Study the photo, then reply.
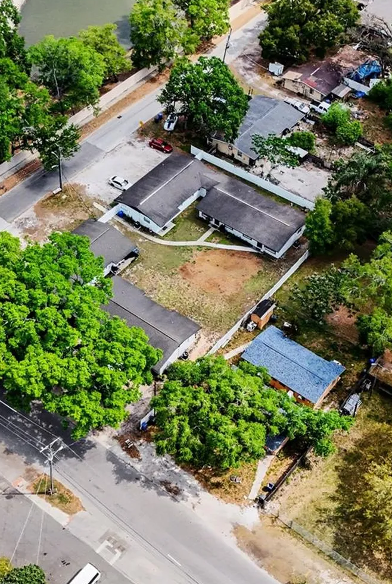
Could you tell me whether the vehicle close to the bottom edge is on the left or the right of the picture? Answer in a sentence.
The vehicle close to the bottom edge is on the left side of the image.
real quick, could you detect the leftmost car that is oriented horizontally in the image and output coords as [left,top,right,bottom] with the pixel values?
[106,176,130,188]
